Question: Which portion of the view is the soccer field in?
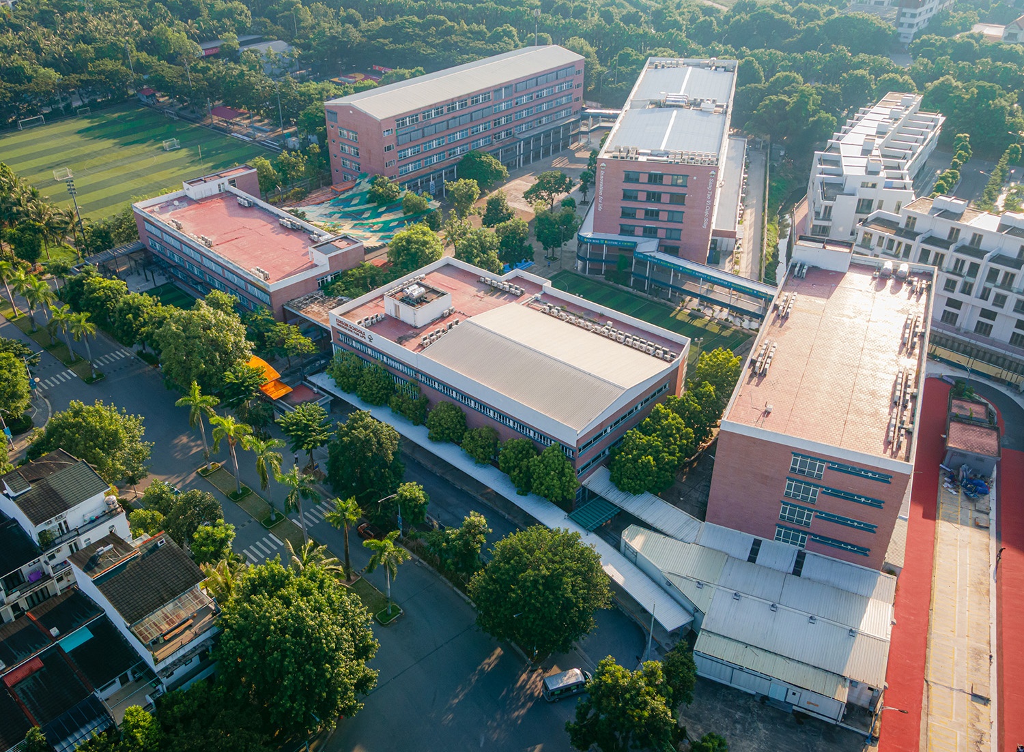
top left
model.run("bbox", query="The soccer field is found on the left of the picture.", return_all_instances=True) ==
[0,104,333,290]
